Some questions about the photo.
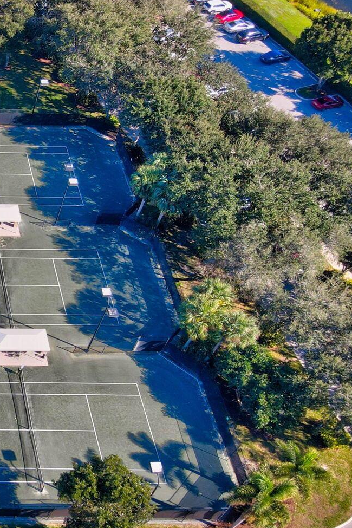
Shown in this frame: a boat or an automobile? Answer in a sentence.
The one in the frame is an automobile.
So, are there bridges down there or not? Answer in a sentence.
No, there is no bridge in the image.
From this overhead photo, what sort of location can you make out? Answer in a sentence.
This looks like a sports ground.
